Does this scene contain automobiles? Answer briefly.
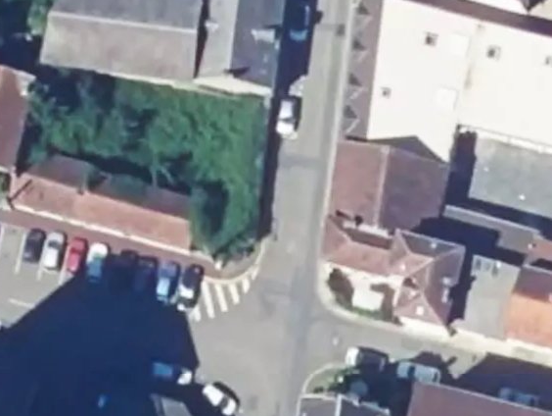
Yes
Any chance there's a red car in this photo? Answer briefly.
Yes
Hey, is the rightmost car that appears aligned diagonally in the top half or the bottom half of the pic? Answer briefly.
bottom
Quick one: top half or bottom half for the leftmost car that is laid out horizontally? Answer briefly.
bottom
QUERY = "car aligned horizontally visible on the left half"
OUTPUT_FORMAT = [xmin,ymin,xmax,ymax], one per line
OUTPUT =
[153,361,196,385]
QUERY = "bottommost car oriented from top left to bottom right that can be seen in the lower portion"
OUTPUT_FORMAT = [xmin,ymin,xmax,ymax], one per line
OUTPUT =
[202,381,240,416]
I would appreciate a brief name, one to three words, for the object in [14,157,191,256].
shed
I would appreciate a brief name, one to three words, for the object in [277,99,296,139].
car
